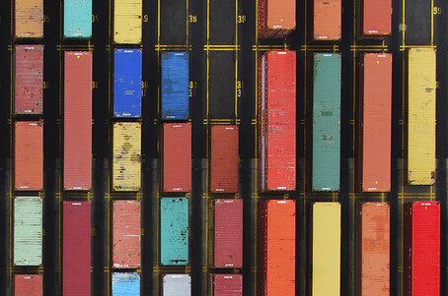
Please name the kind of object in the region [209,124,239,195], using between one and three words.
shipping container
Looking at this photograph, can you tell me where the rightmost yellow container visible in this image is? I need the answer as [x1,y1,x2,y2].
[404,47,435,188]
